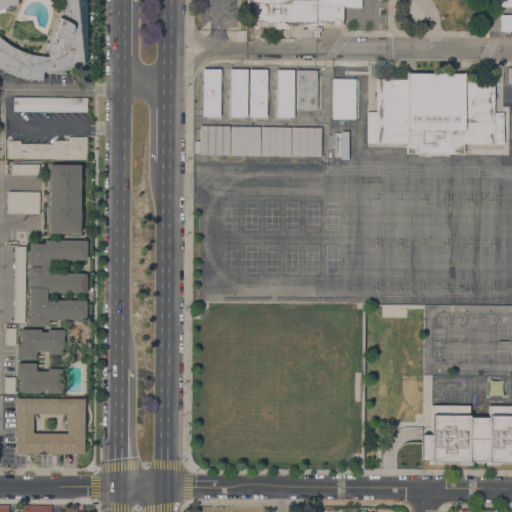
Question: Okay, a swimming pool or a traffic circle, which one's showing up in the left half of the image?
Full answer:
It is a swimming pool that can be seen in the left half of the image.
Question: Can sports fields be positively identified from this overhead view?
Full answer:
Yes, the photo shows a sports field.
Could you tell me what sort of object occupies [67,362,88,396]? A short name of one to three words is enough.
swimming pool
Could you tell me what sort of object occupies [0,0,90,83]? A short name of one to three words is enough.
building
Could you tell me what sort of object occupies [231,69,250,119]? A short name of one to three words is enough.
building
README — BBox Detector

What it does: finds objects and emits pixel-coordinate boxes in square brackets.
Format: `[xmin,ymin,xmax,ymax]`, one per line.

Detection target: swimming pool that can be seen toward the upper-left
[18,0,54,34]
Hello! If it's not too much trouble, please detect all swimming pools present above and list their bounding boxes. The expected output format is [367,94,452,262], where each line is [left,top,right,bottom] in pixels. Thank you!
[67,362,88,396]
[18,0,54,34]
